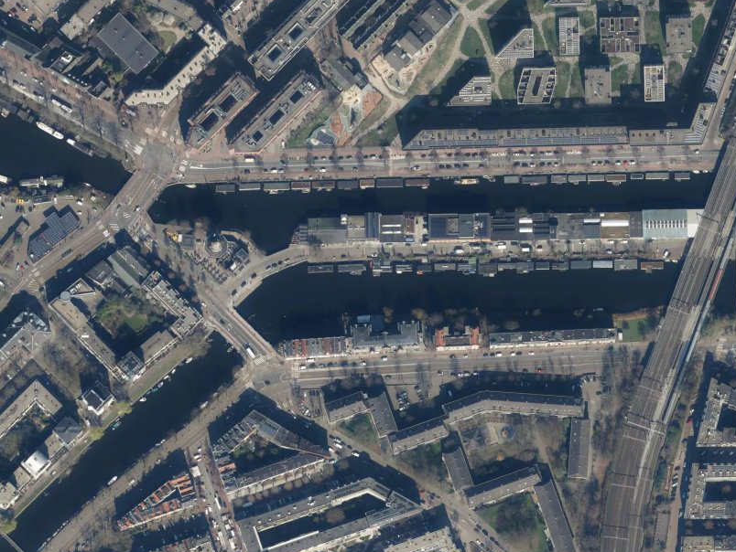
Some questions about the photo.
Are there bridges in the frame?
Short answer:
Yes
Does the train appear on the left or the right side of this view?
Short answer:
right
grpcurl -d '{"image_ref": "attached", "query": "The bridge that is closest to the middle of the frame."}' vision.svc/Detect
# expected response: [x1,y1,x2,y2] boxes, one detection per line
[207,307,281,361]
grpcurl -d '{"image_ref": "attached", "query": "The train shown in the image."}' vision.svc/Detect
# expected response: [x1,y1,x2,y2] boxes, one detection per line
[672,221,736,390]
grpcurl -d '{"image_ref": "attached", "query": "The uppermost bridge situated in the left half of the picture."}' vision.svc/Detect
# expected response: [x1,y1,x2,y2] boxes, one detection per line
[109,169,165,211]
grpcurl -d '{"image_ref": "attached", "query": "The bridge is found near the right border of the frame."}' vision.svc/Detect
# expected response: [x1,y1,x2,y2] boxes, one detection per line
[600,128,736,552]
